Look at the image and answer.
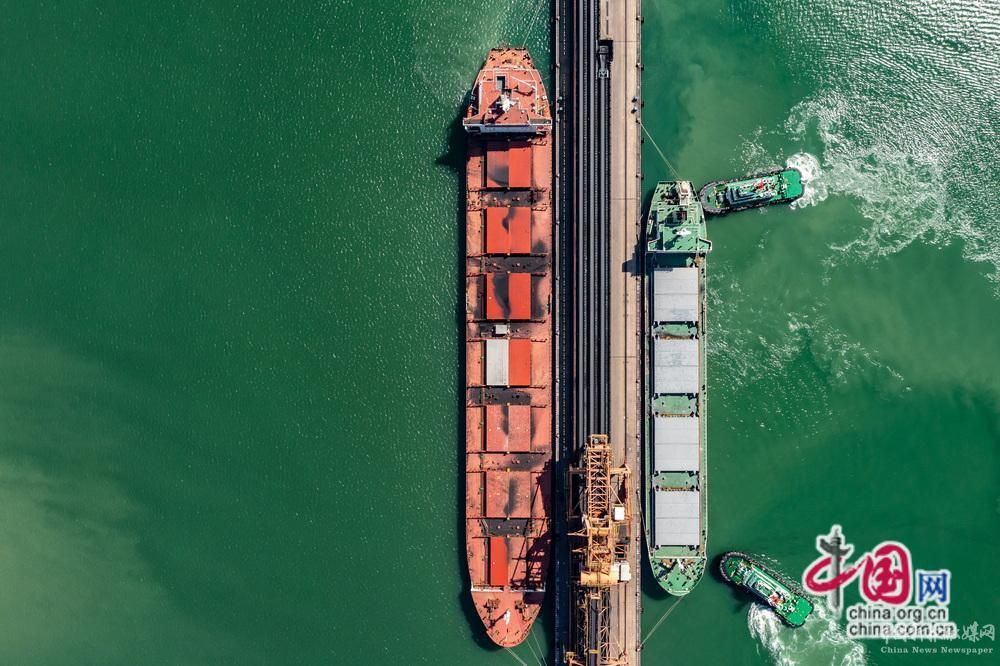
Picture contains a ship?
Yes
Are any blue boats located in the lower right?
No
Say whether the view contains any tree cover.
No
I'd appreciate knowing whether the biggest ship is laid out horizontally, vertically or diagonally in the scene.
vertically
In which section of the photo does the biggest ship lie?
center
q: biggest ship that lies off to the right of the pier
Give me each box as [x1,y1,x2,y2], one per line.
[644,180,713,597]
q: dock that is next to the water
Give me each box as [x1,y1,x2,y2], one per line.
[553,0,641,666]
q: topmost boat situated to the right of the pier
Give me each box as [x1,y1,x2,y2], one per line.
[700,169,806,212]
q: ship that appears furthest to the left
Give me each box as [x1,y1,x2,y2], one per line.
[463,47,553,649]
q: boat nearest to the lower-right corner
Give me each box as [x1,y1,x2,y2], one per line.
[719,558,815,630]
